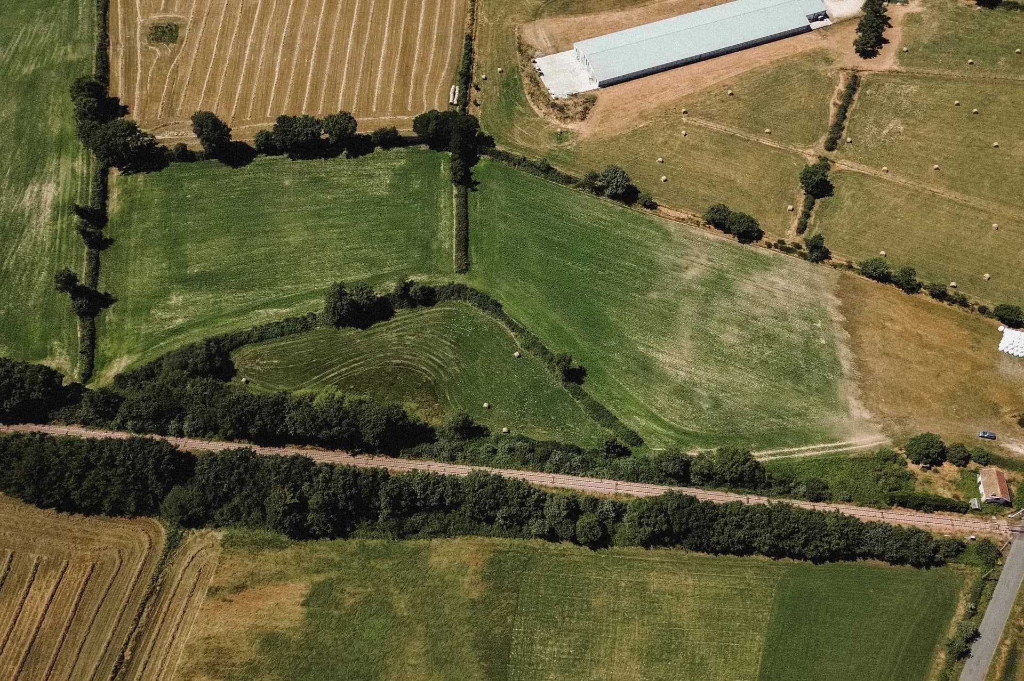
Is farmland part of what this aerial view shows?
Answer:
Yes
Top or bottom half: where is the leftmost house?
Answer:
top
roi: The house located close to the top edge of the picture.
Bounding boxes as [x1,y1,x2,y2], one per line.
[573,0,827,87]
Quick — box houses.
[974,467,1010,504]
[573,0,827,87]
